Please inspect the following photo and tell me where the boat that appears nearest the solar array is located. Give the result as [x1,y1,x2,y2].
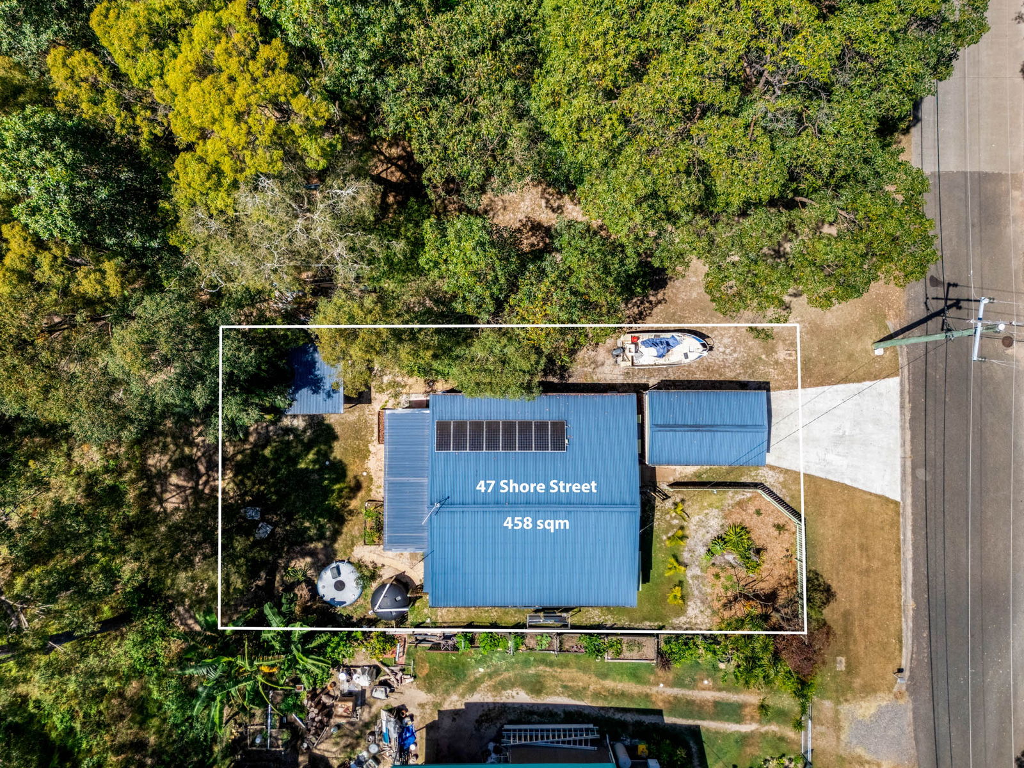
[612,332,717,369]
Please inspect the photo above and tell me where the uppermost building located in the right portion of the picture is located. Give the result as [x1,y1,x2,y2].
[640,385,771,468]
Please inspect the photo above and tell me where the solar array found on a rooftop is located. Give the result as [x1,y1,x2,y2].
[434,421,569,451]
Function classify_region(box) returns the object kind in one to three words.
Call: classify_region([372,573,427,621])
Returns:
water tank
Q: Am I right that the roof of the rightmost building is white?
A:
No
